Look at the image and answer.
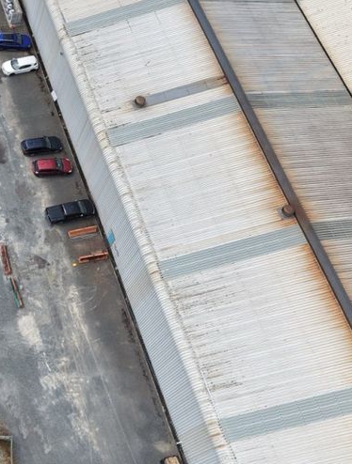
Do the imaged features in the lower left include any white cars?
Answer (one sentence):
No, no white car appears in the lower left.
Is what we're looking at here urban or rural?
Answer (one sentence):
It looks urban.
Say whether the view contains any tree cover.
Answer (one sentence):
No, the picture contains no tree cover.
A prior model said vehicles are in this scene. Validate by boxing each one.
[21,134,64,155]
[33,157,73,177]
[0,31,31,51]
[2,55,39,76]
[45,199,95,224]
